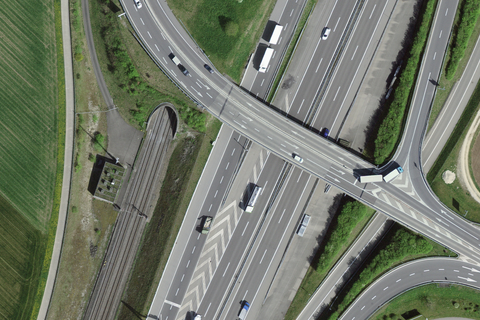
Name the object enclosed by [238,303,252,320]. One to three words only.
vehicle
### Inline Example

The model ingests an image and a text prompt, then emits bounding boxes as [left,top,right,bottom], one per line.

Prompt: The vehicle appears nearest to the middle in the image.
[245,186,262,212]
